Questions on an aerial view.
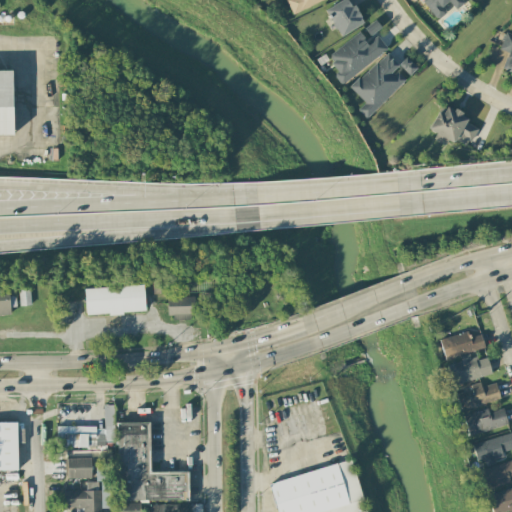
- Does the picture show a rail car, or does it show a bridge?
bridge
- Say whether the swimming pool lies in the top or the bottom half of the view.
top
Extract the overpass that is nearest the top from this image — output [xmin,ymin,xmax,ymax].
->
[0,170,421,252]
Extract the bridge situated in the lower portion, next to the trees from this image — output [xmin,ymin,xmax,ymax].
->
[270,278,392,369]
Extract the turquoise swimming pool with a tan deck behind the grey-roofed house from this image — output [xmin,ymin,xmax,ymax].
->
[435,10,468,32]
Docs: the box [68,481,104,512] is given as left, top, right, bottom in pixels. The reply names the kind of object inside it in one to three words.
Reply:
building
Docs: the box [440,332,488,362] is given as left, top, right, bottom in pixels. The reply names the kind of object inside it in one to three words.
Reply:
house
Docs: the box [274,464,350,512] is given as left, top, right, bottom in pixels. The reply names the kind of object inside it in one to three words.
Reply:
building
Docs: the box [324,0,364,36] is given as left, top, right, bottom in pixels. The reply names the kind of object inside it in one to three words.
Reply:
house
